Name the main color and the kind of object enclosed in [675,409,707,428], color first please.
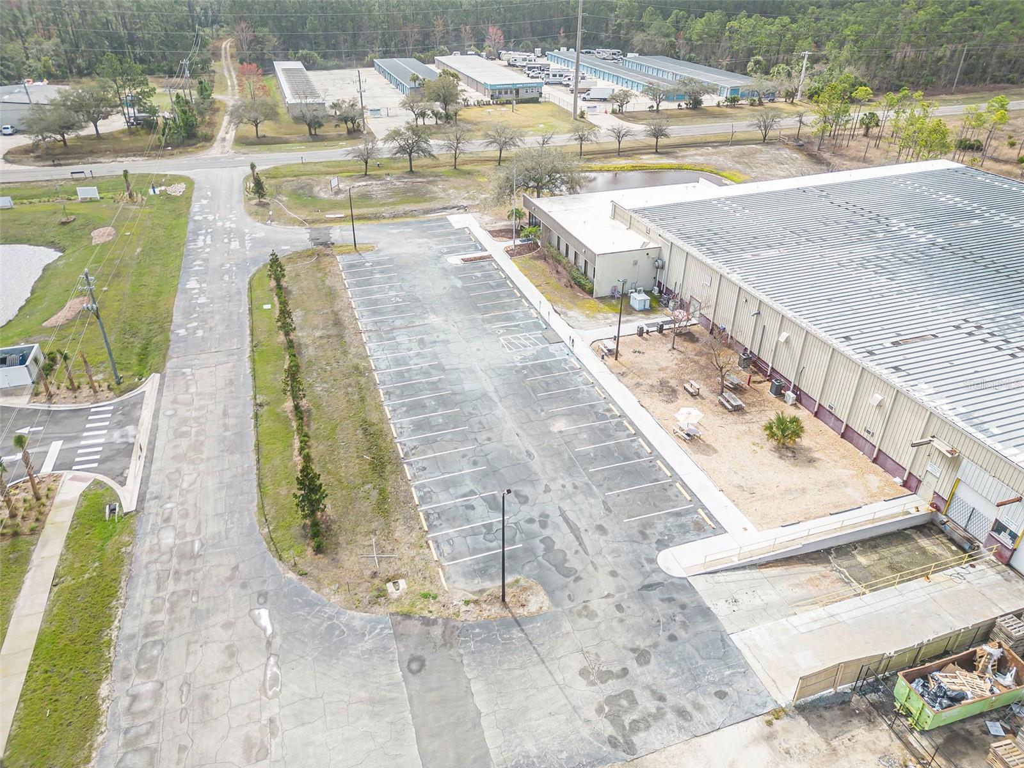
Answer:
white umbrella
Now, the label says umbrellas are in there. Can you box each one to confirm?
[675,409,707,428]
[667,310,694,320]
